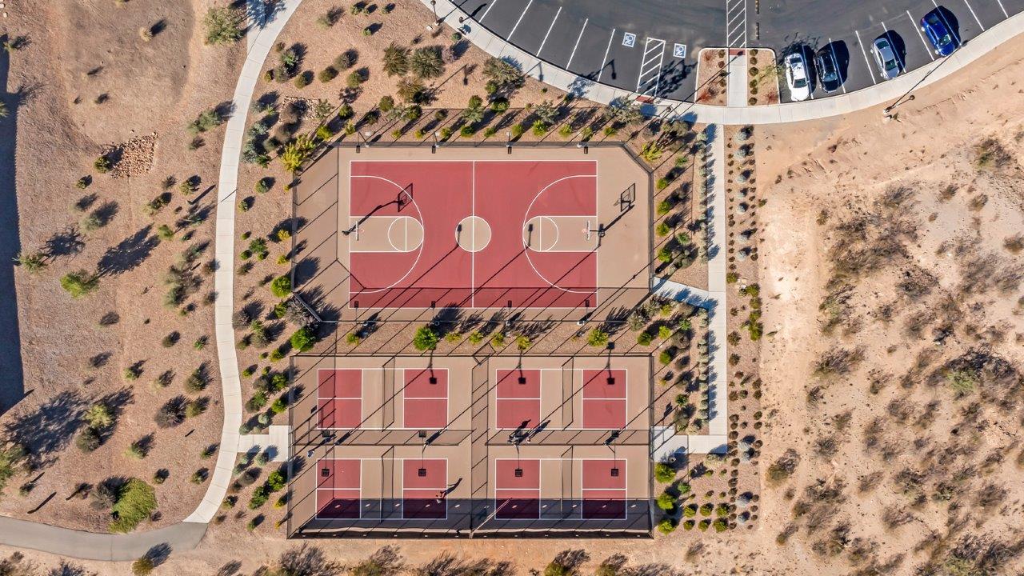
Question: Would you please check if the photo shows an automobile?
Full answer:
Yes, you can see an automobile in this photo.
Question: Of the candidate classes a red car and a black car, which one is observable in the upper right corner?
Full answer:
The feature located in the upper right corner is a black car.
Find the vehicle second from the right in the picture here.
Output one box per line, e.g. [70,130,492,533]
[876,34,903,80]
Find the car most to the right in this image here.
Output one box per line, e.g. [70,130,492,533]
[925,9,957,56]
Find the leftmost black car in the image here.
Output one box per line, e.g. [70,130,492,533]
[817,48,843,94]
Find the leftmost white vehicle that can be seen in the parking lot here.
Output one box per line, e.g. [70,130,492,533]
[786,52,812,101]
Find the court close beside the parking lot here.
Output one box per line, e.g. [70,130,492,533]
[298,148,647,321]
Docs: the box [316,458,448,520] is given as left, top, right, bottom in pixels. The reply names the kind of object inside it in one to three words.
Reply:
sports court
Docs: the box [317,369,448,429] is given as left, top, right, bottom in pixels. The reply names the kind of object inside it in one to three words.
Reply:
sports court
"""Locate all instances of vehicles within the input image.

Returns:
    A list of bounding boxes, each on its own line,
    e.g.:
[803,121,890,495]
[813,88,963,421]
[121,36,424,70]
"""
[817,48,843,94]
[786,52,812,101]
[925,9,957,56]
[876,34,903,80]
